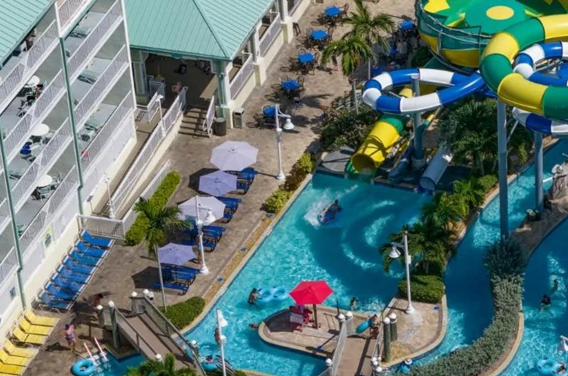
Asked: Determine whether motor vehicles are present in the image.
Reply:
No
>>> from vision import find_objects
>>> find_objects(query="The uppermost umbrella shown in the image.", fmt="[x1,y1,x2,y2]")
[208,146,263,178]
